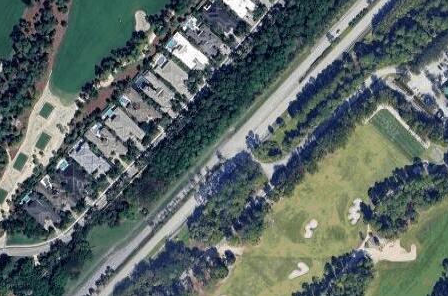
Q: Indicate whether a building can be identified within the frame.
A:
Yes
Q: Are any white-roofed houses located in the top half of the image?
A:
Yes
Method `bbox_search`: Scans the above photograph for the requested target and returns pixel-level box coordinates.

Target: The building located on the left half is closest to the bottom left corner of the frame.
[20,192,62,228]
